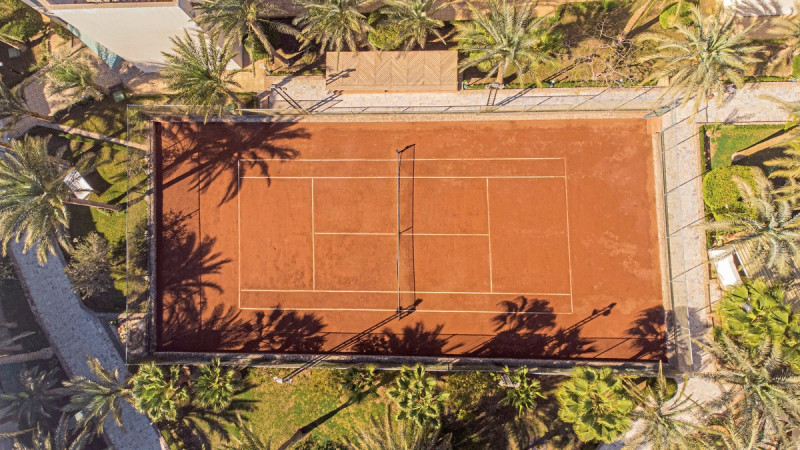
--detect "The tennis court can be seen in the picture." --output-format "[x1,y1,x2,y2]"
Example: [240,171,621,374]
[155,112,666,362]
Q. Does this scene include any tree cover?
Yes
